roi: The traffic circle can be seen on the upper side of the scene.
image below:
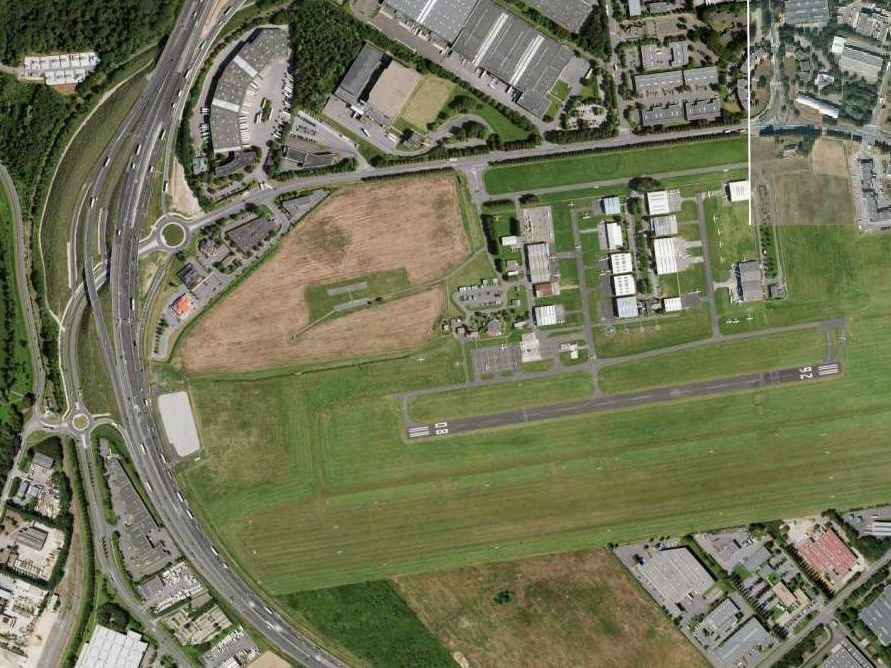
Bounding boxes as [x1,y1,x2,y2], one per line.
[153,215,192,254]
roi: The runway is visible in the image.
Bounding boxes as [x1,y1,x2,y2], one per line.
[406,362,840,439]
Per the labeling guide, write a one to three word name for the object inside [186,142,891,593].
airport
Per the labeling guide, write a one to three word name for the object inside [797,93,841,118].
building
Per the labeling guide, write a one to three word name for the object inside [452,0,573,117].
warehouse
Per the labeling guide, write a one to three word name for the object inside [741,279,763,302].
hangar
